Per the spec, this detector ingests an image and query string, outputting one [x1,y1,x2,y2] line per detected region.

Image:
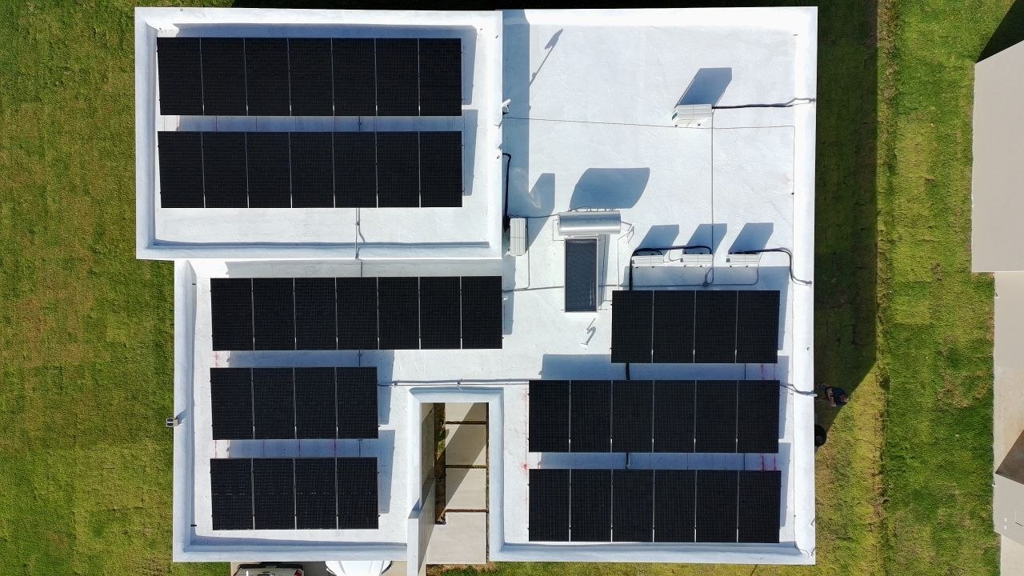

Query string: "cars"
[231,562,304,576]
[329,562,393,576]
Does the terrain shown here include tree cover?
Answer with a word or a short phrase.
No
